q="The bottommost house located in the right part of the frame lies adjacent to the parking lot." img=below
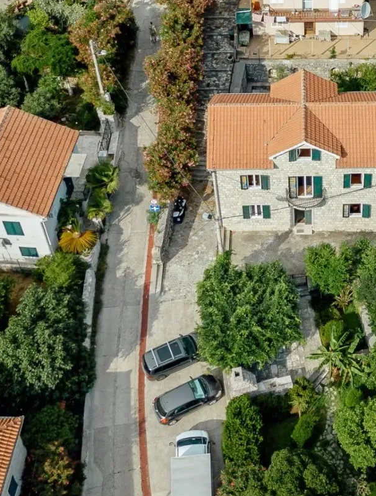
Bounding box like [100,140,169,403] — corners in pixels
[212,61,376,250]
